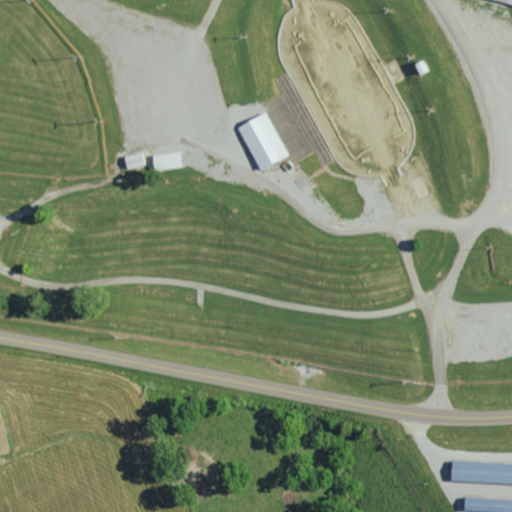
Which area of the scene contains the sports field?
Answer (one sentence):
Look in the top left portion of the view to spot the sports field.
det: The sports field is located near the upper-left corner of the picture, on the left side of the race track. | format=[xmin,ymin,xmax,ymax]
[0,0,108,178]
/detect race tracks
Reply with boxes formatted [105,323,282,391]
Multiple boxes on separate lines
[278,0,413,188]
